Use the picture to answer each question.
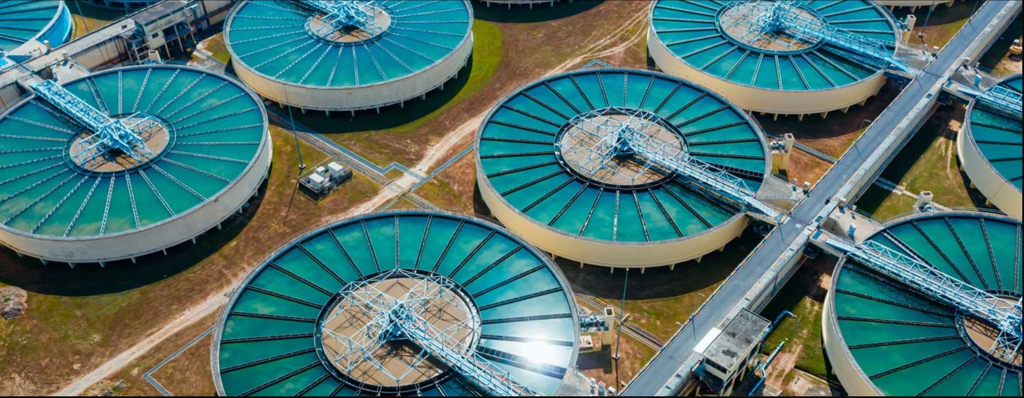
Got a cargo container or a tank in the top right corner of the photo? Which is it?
tank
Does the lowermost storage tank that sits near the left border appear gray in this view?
Yes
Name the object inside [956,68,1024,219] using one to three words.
storage tank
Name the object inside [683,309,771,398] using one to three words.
building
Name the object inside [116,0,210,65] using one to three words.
building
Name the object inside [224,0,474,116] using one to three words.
storage tank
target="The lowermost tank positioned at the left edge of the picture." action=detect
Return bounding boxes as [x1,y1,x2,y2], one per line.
[0,61,273,270]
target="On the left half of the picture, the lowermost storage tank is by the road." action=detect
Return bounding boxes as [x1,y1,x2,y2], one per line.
[211,205,581,398]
